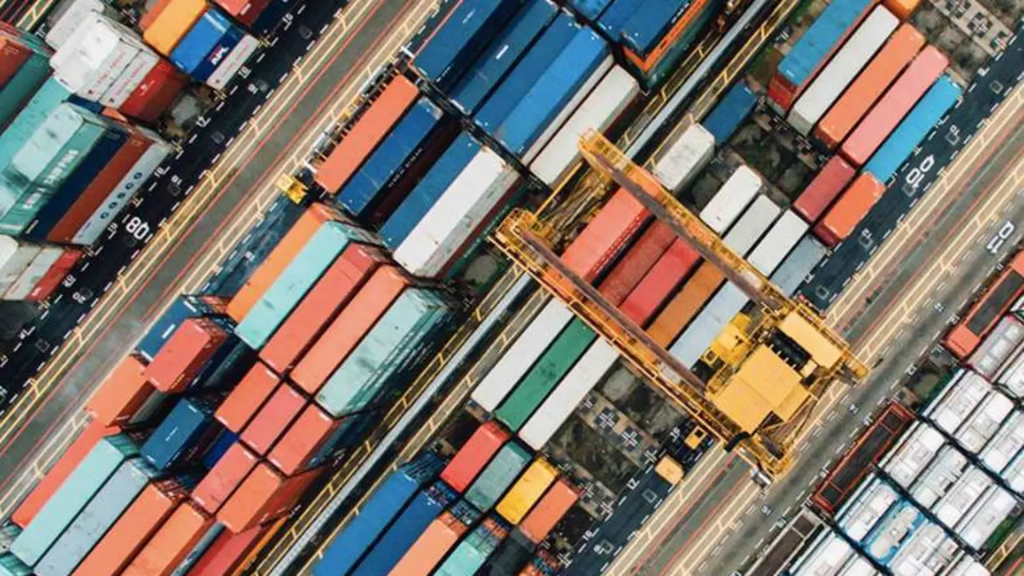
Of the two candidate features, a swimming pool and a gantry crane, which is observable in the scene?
gantry crane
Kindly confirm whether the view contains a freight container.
Yes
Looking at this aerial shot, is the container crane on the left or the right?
right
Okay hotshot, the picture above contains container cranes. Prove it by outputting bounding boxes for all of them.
[487,121,872,502]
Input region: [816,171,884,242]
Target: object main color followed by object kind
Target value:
orange shipping container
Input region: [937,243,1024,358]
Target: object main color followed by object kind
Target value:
red shipping container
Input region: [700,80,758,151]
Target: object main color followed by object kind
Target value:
blue shipping container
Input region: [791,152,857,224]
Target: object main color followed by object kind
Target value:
red shipping container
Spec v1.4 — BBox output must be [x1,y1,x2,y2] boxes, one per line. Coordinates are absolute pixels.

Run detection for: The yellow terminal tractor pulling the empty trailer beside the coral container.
[278,153,327,199]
